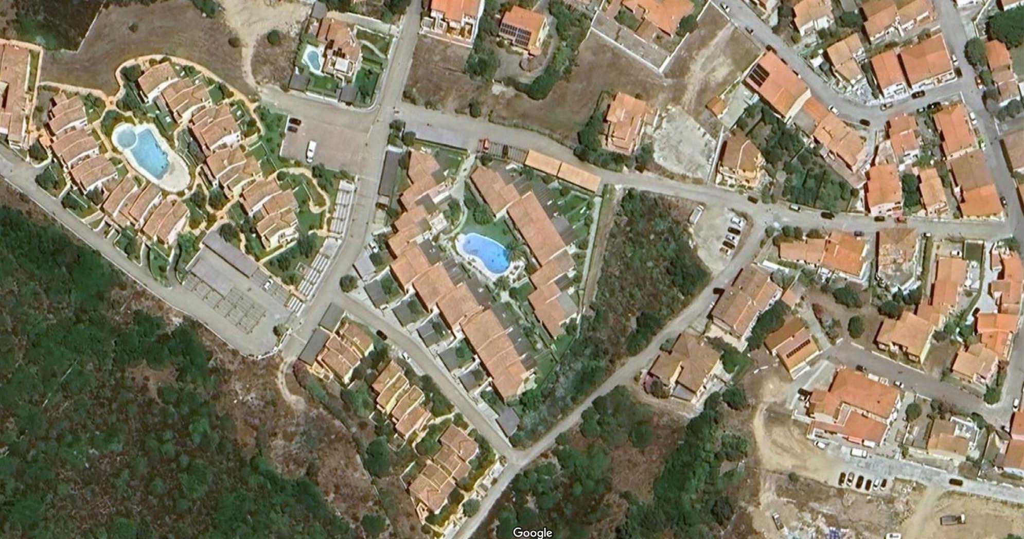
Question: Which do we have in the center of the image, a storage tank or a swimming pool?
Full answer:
Looking in the center of the image, you will find a swimming pool.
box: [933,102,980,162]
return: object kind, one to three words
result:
house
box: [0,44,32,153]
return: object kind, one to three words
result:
building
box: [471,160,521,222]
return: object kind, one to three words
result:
house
